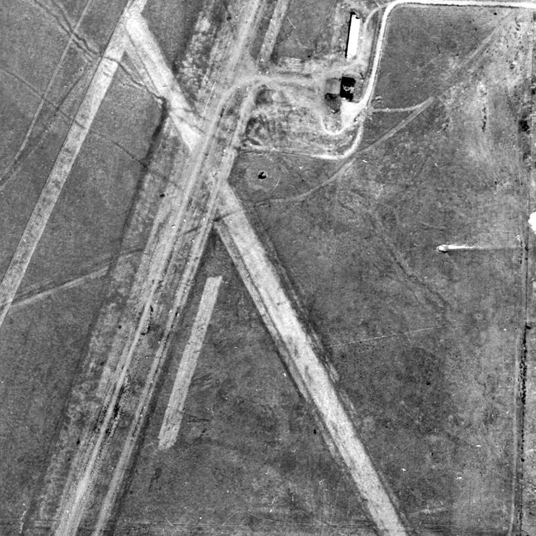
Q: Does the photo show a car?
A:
No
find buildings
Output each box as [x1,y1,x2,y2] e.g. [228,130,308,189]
[340,78,355,101]
[347,13,361,57]
[326,79,340,94]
